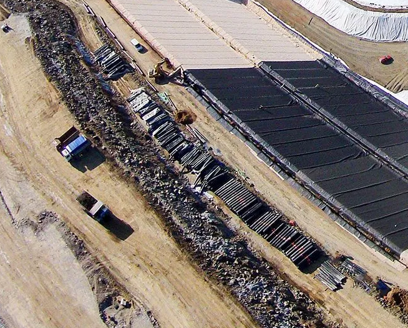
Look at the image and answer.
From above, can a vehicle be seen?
Yes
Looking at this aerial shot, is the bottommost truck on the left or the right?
left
